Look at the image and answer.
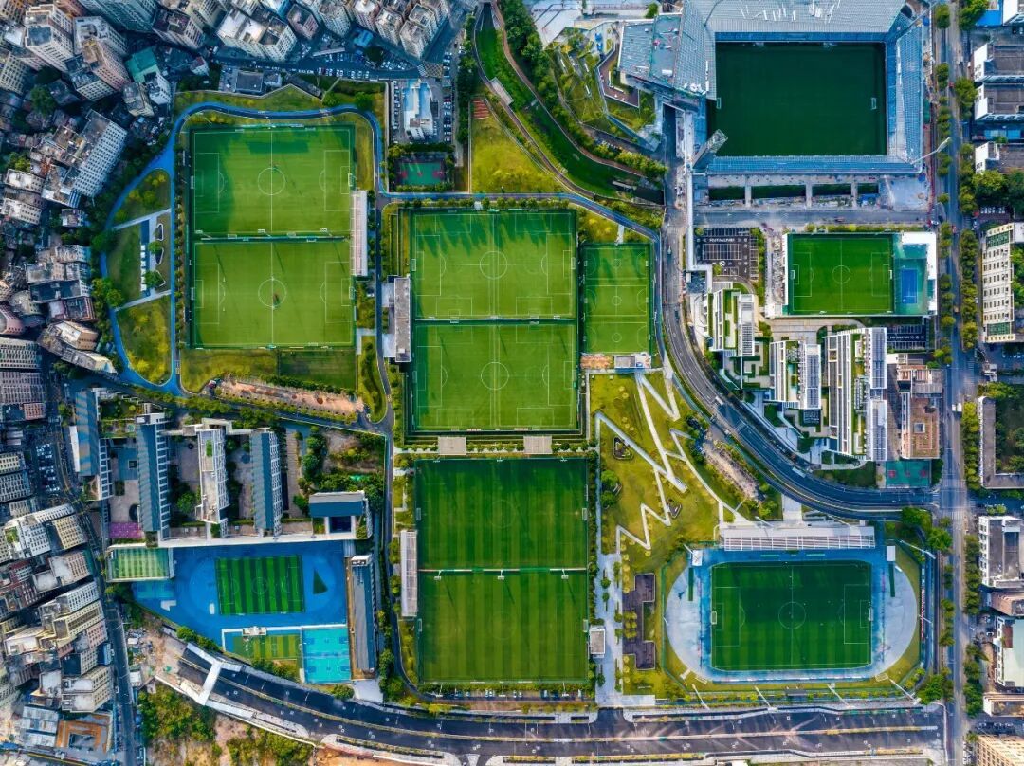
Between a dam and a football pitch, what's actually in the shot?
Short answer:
football pitch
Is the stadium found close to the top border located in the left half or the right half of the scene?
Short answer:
right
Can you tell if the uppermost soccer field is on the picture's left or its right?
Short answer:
right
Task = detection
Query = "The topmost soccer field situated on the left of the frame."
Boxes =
[192,129,353,234]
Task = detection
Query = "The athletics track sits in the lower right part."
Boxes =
[665,547,917,684]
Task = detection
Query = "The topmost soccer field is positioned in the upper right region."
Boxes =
[714,43,888,155]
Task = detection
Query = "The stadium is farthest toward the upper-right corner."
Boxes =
[618,0,931,177]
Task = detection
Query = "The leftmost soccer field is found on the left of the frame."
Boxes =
[113,549,166,577]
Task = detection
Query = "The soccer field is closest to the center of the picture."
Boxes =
[413,323,576,429]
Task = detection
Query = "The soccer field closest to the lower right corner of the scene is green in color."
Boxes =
[711,560,872,671]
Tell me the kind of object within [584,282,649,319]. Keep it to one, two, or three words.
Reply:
sports field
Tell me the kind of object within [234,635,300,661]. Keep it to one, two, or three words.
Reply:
soccer field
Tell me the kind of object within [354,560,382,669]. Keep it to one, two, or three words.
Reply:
building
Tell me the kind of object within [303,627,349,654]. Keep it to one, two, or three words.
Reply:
basketball court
